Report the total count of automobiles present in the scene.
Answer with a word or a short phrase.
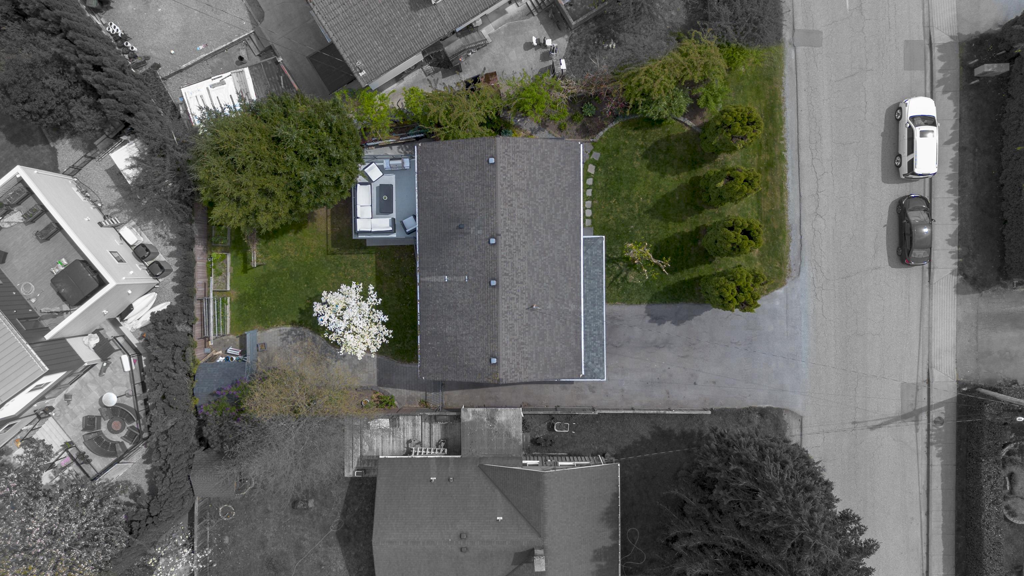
2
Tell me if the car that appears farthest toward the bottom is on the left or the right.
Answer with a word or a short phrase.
right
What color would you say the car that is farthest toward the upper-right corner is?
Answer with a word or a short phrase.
white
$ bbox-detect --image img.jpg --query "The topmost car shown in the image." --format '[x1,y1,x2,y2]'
[893,99,939,182]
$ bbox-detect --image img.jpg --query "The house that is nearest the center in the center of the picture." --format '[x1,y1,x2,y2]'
[416,136,607,383]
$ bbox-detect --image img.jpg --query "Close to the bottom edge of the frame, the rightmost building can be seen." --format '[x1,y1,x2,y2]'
[372,440,621,576]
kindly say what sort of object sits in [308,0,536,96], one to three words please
house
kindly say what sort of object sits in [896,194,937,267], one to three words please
car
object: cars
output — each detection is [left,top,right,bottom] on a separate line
[893,99,939,182]
[896,194,937,267]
